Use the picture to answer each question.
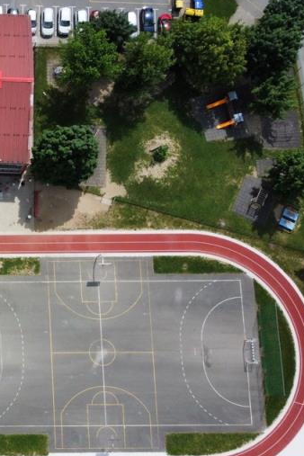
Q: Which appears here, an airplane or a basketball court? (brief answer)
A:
basketball court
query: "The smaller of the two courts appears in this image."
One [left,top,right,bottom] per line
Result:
[39,255,167,453]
